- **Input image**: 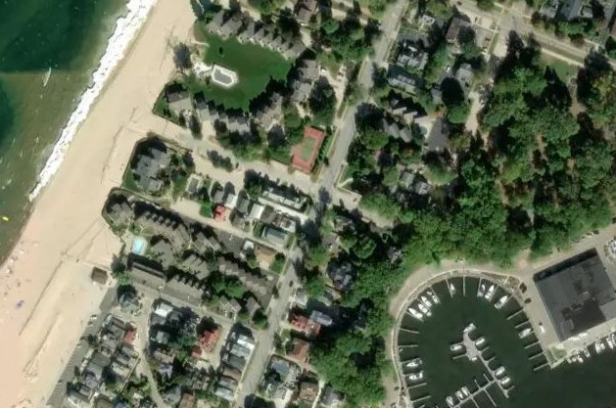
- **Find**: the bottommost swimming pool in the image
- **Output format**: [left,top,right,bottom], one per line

[130,234,147,254]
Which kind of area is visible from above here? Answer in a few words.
residential area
